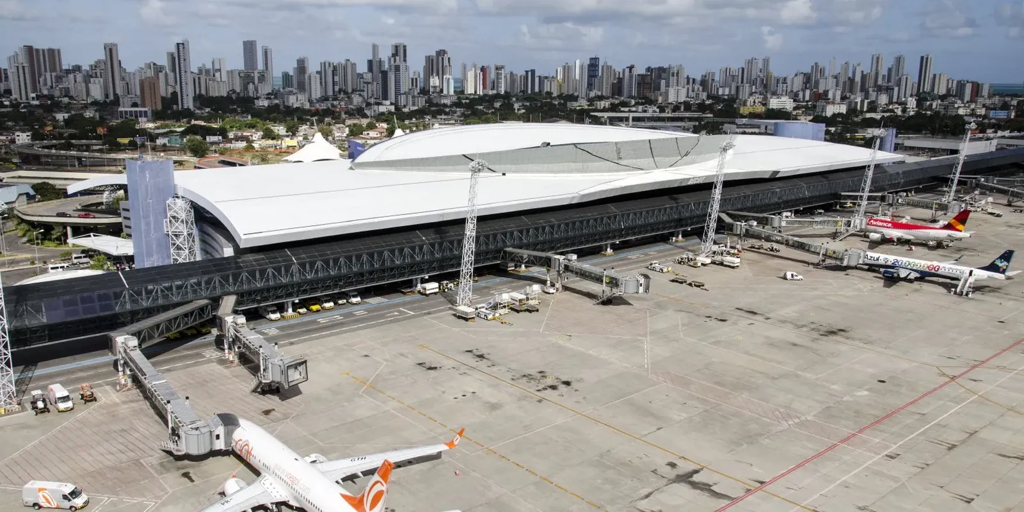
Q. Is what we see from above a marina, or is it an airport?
airport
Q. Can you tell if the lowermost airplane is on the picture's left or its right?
left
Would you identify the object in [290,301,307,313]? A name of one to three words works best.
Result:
vehicle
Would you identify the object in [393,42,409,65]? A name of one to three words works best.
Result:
building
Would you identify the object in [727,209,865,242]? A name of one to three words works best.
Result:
jet bridge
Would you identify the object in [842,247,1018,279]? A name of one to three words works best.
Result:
airplane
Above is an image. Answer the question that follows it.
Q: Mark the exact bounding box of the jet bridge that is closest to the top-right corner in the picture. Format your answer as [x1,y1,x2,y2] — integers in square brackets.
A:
[937,175,1024,199]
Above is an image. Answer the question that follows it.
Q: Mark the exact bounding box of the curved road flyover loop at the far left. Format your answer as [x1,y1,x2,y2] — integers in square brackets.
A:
[15,137,284,168]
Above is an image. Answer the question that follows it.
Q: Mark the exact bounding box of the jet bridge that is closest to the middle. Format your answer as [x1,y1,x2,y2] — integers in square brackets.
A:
[509,244,652,305]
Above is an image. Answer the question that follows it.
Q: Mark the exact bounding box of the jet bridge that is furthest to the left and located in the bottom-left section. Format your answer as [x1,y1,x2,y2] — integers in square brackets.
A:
[108,293,239,470]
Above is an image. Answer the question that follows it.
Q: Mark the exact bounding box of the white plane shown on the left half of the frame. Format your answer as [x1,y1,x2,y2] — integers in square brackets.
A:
[190,423,461,512]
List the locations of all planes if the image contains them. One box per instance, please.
[846,209,974,242]
[190,423,461,512]
[842,247,1018,279]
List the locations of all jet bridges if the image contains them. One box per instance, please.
[714,211,854,270]
[108,293,239,470]
[214,292,314,397]
[727,209,865,242]
[833,191,967,222]
[509,244,652,305]
[937,175,1024,199]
